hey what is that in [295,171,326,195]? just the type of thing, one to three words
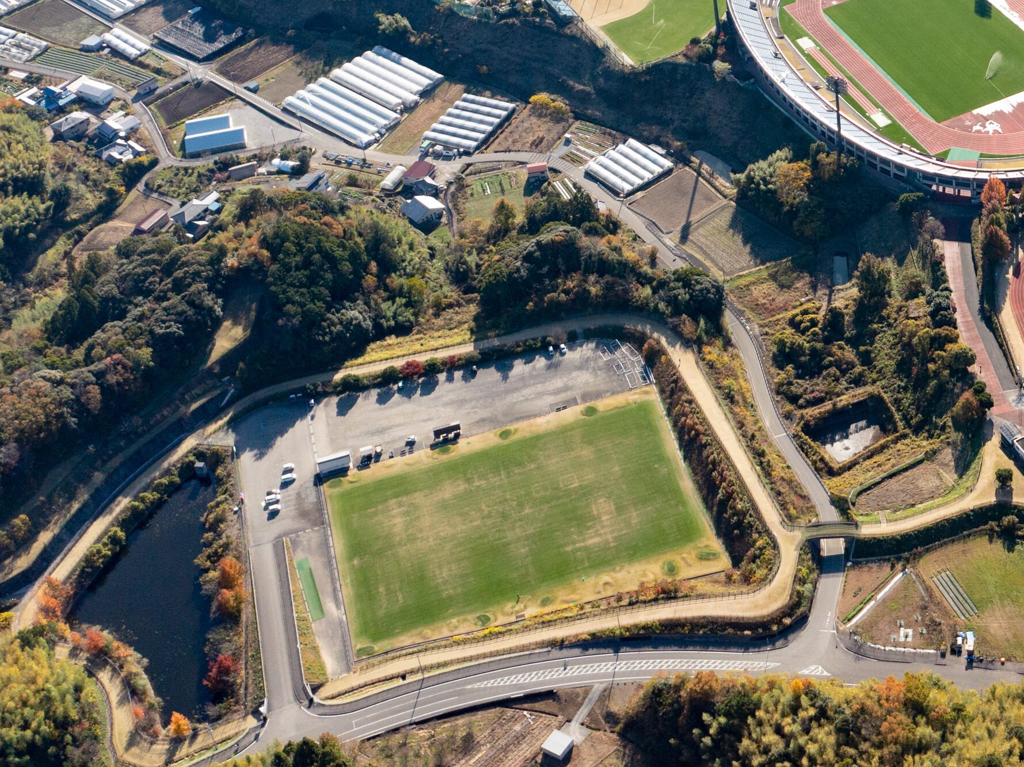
house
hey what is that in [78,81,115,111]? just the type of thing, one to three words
barn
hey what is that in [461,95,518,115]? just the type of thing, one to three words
greenhouse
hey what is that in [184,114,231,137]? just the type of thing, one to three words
building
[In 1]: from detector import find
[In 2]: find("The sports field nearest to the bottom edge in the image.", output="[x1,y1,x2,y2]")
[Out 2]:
[322,387,732,663]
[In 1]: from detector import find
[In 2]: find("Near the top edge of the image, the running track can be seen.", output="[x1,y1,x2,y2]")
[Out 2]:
[784,0,1024,154]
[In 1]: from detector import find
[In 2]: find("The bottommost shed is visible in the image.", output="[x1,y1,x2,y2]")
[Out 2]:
[543,729,574,760]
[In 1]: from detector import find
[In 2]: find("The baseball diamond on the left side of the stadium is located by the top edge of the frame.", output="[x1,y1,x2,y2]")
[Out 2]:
[573,0,724,64]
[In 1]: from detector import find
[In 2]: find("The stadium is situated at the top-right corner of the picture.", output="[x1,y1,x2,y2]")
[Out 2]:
[722,0,1024,205]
